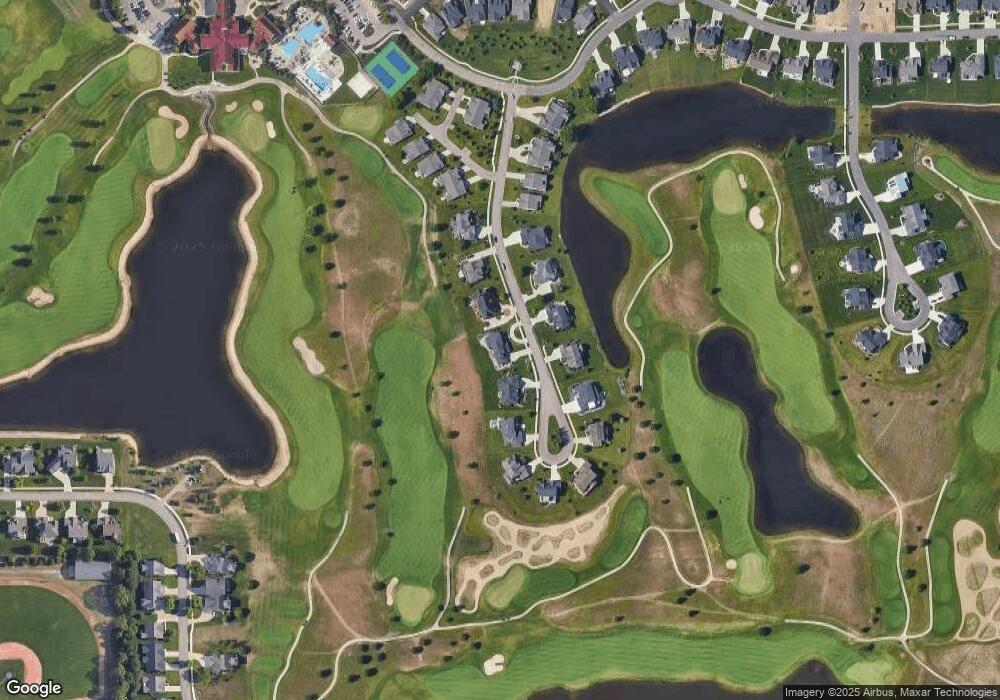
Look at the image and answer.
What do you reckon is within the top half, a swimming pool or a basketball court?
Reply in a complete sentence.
The one visible within the top half is a swimming pool.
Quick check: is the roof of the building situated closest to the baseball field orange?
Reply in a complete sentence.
No, from above the roof of the building situated closest to the baseball field looks gray.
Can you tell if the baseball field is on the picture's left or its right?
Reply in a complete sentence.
You can find the baseball field on the left side of the picture.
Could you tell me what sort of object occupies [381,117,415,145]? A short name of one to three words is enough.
house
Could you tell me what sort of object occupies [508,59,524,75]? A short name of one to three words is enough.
gazebo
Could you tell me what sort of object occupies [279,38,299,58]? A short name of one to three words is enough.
swimming pool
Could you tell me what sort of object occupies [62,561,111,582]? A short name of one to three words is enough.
building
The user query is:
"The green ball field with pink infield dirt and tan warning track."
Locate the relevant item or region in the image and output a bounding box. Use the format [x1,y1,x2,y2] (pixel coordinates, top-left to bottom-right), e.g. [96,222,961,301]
[0,577,100,700]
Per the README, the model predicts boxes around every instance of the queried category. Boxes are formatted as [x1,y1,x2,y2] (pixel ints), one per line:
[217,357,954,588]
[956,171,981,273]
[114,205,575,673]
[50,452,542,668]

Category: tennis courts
[371,64,396,89]
[387,49,410,74]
